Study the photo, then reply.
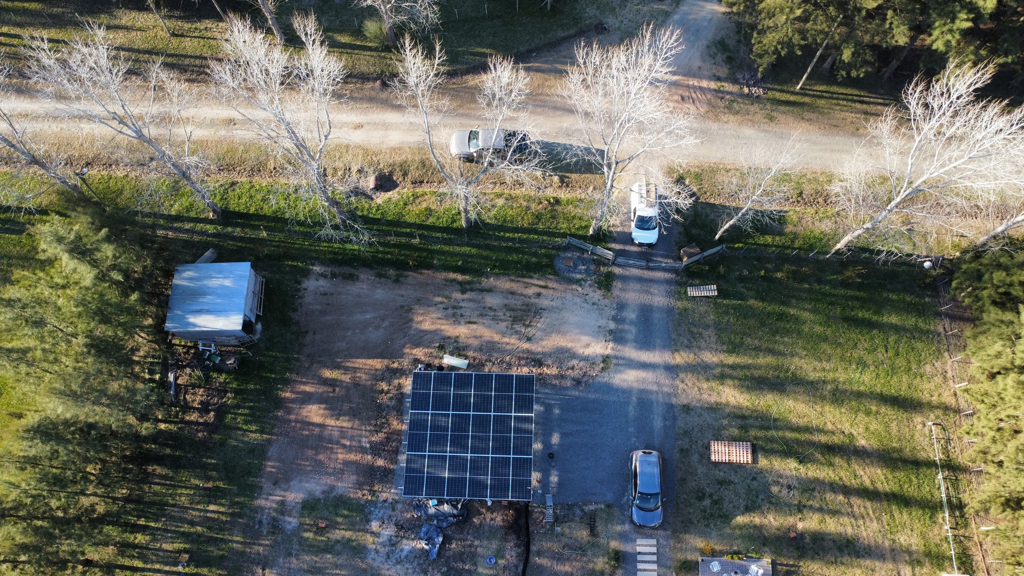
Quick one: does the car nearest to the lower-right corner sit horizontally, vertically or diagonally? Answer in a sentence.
The car nearest to the lower-right corner runs vertically in the image.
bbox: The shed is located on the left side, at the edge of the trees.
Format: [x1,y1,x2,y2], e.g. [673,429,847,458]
[165,262,273,338]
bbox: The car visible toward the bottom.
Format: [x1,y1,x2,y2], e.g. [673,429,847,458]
[628,450,668,528]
